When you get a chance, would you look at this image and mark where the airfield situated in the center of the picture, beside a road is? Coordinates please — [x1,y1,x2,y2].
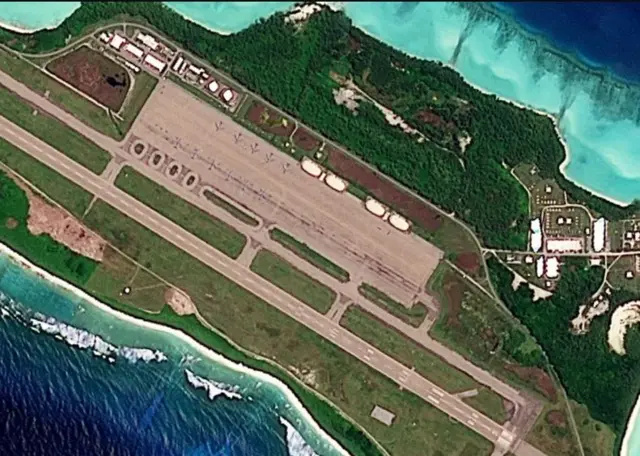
[0,71,544,456]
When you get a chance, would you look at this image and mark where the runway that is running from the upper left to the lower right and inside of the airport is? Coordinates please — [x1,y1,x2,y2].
[0,117,514,450]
